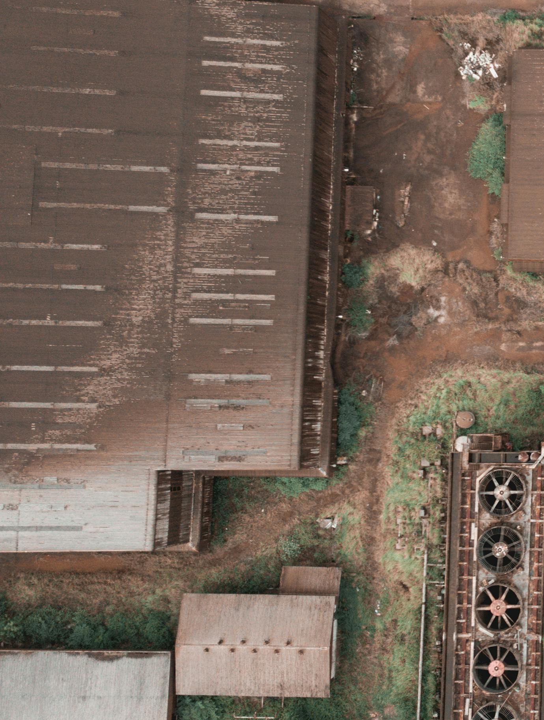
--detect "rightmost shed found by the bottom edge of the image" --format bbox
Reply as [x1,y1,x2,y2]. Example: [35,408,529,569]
[175,563,348,699]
